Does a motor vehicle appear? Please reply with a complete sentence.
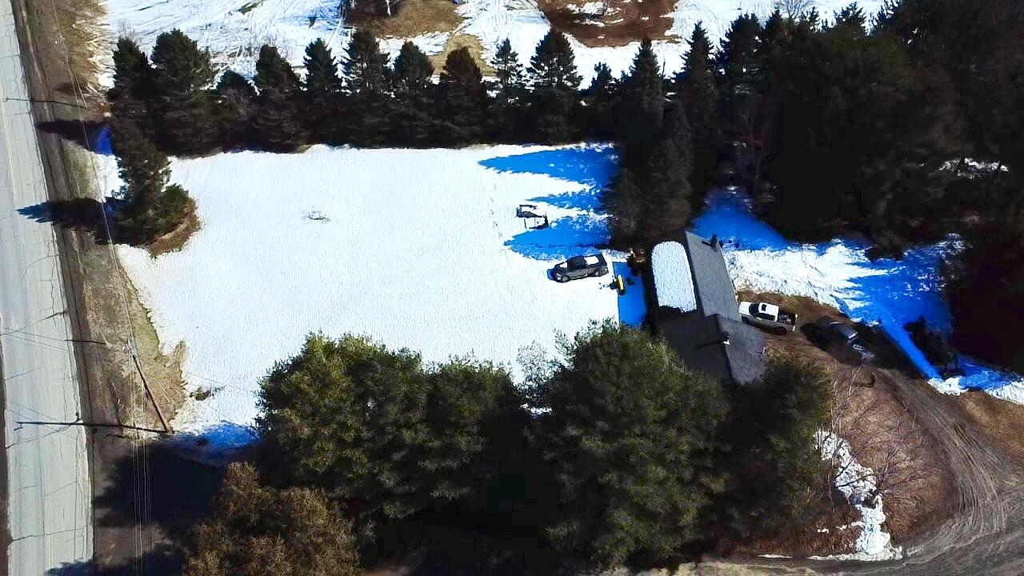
Yes, you can see a motor vehicle in this photo.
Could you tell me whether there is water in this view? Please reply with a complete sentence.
No, the picture contains no water.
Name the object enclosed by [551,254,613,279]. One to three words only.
truck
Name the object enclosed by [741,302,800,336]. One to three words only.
truck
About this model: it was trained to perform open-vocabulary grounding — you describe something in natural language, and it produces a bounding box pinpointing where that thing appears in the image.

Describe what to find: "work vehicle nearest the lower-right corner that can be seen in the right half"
[901,306,960,353]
